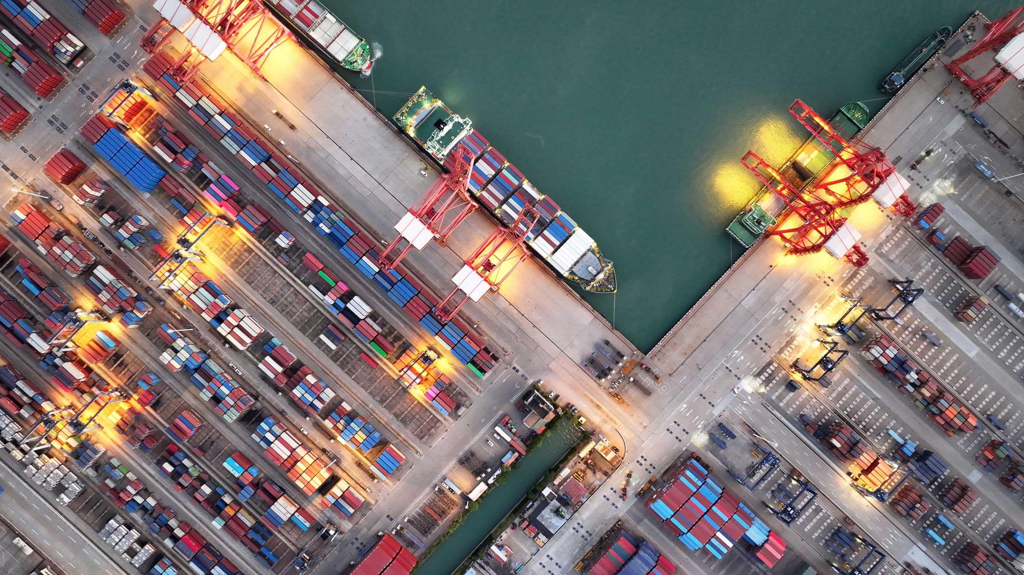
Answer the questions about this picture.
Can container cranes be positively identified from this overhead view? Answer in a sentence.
Yes, you can see a container crane in this photo.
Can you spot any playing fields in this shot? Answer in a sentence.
No, there is no playing field in the image.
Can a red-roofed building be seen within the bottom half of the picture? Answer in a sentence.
Yes, you'll find a red-roofed building within the bottom half of the picture.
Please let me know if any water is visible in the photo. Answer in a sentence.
Yes, the picture does contain water.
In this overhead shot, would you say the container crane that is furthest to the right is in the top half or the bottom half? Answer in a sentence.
The container crane that is furthest to the right is in the top half of the image.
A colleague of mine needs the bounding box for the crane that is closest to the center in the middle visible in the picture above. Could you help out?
[431,197,539,323]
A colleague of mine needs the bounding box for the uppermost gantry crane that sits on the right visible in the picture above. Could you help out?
[950,11,1024,108]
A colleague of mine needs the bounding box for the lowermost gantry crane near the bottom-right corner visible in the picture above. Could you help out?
[833,536,887,575]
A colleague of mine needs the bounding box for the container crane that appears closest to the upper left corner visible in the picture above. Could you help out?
[99,77,155,128]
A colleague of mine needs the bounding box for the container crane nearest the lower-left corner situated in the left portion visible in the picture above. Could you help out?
[24,403,76,451]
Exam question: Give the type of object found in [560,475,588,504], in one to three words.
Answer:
building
